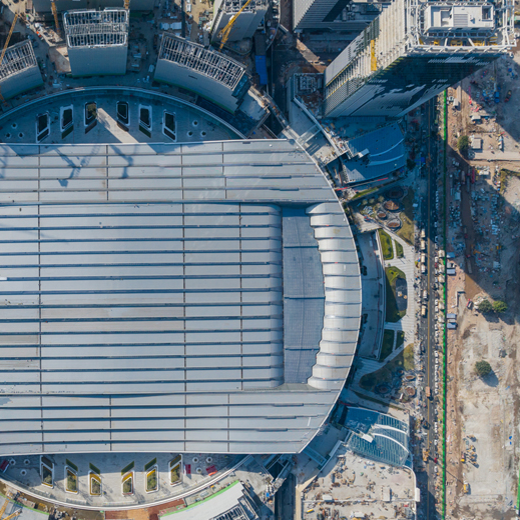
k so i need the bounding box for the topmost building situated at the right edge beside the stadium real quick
[325,0,520,115]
